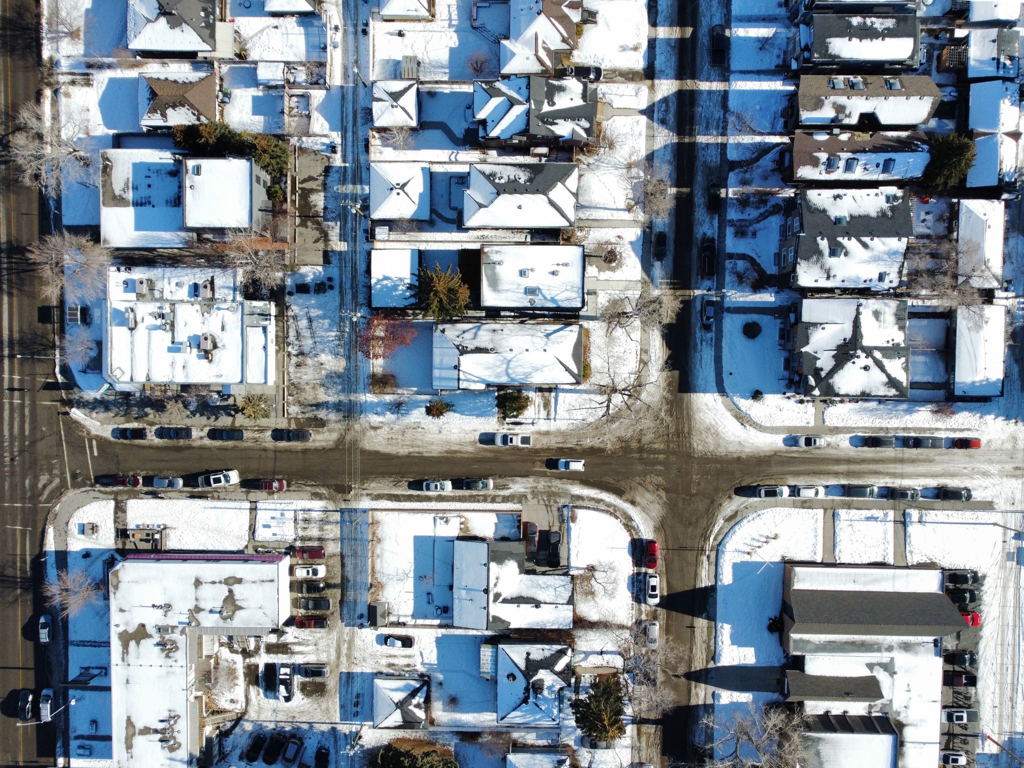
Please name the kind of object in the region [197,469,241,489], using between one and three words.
vehicle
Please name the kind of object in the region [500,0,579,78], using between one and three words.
house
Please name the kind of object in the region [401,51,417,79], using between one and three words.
shed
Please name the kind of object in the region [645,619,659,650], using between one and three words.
car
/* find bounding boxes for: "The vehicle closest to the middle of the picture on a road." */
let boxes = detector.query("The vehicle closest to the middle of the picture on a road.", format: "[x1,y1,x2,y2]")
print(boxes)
[494,432,533,448]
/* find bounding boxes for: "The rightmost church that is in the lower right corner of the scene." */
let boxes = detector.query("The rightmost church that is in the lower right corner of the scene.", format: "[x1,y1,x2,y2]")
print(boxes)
[779,561,969,768]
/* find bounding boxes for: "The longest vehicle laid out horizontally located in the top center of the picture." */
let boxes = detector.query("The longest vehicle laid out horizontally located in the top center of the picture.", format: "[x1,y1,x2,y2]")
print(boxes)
[565,65,603,83]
